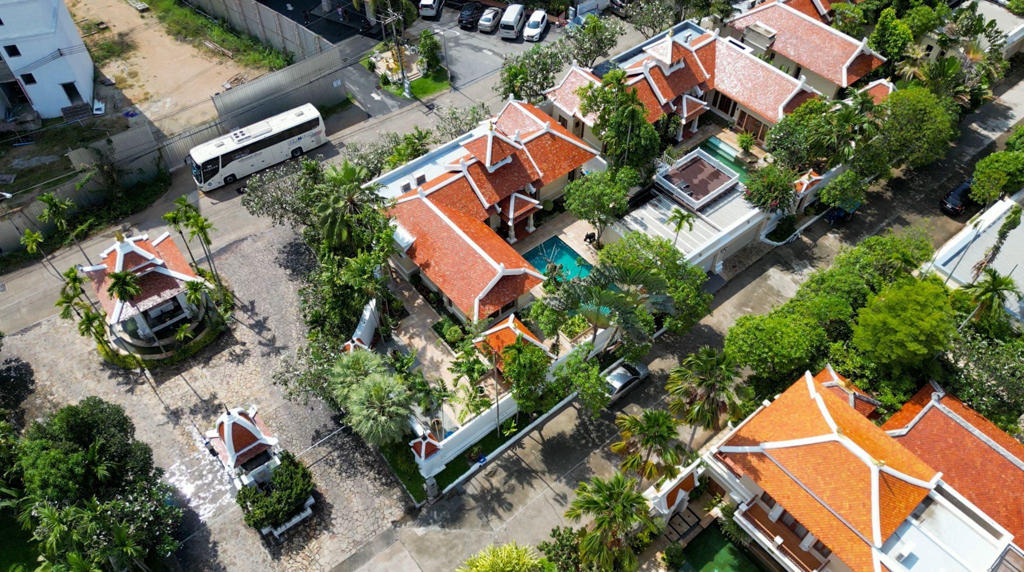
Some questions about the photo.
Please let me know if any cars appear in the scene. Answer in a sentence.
Yes, this view includes a car.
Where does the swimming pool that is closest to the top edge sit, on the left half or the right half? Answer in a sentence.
The swimming pool that is closest to the top edge is on the right side of the image.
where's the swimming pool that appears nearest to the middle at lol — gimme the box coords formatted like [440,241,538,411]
[521,232,618,319]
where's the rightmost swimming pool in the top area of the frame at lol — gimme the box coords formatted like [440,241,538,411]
[690,135,764,191]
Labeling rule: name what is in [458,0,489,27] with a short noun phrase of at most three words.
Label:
car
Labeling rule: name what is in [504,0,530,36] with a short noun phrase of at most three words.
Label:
vehicle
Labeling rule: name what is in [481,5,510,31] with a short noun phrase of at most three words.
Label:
car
